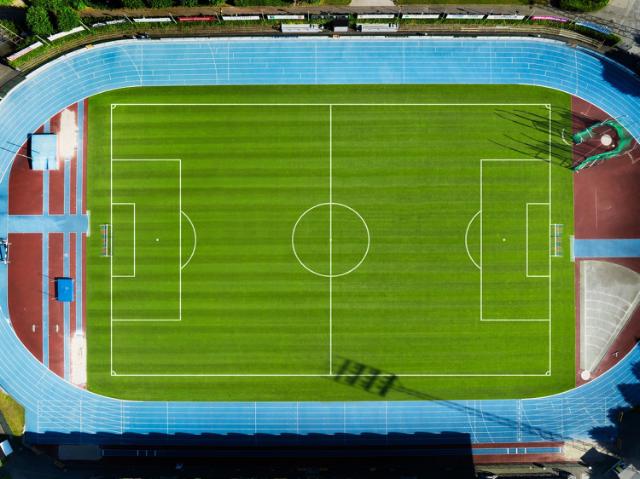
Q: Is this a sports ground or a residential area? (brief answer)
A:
sports ground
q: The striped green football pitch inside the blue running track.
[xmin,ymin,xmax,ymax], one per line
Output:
[87,84,576,401]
